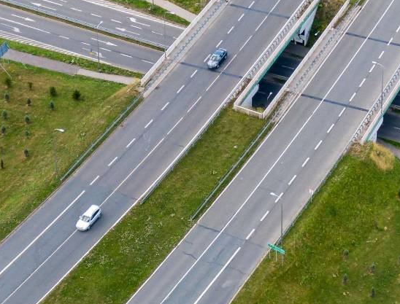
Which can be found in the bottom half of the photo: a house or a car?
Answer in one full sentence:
The one visible in the bottom half of the photo is a car.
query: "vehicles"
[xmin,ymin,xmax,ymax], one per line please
[75,207,104,231]
[206,51,228,69]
